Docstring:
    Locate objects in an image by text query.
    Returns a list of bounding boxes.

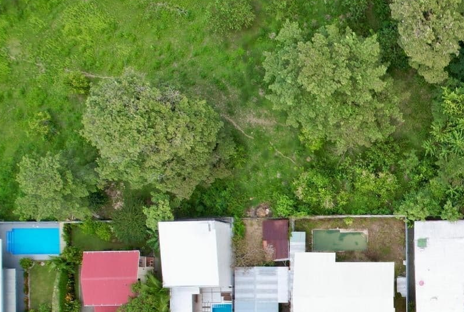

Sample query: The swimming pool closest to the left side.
[5,226,61,256]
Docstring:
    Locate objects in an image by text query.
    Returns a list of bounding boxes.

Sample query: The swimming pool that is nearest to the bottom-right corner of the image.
[311,228,369,253]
